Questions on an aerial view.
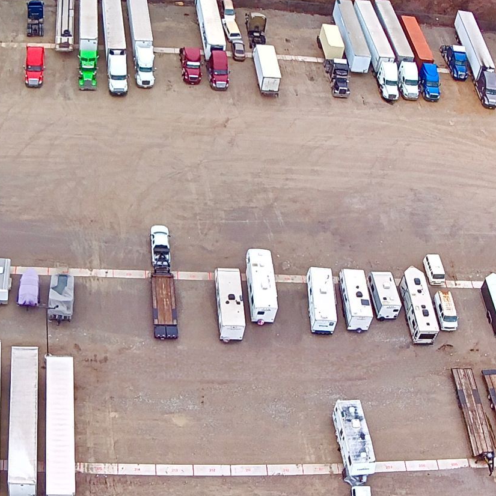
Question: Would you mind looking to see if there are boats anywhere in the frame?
Yes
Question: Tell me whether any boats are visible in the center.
No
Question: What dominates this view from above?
paved ground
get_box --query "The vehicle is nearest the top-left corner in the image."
[25,0,45,33]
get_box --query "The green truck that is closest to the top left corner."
[78,51,99,89]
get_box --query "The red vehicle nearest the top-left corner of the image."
[23,45,45,85]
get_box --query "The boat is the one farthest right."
[48,273,74,331]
